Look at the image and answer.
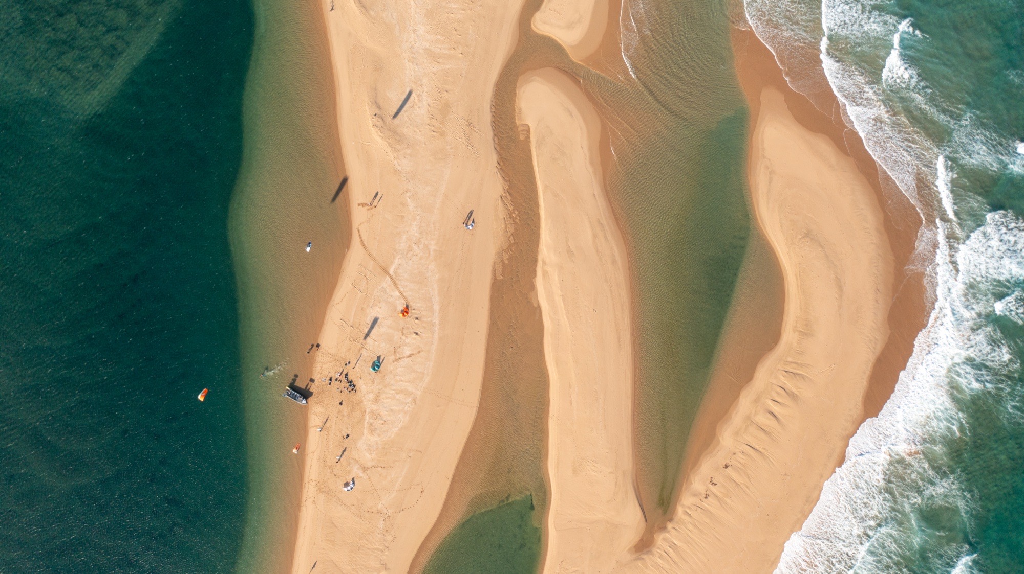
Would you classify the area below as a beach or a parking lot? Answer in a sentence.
What you see here is a beach.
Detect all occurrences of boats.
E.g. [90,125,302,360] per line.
[283,391,306,406]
